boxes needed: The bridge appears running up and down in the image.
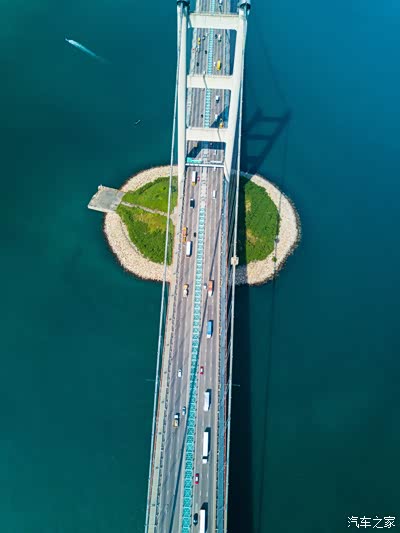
[145,0,251,533]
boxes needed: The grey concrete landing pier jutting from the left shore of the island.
[89,183,124,212]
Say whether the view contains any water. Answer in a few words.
Yes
